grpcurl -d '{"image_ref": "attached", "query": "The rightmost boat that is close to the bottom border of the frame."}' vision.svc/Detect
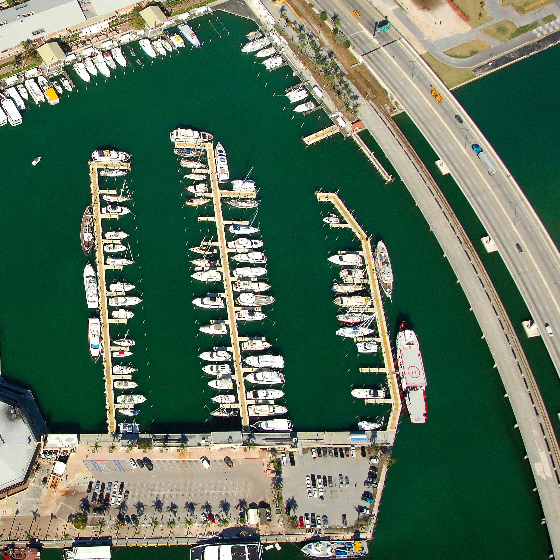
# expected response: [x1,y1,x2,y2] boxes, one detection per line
[302,541,370,558]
